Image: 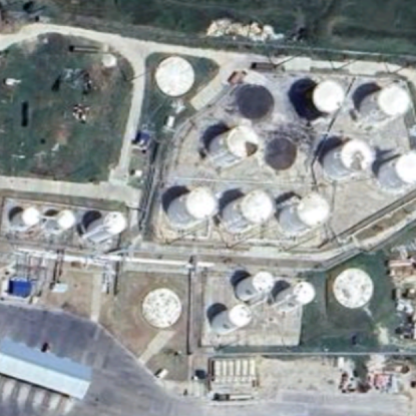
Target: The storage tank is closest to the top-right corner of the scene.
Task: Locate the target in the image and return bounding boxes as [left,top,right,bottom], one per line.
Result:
[358,84,411,132]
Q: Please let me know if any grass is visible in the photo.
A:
Yes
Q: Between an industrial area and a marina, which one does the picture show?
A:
industrial area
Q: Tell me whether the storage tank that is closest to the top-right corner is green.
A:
No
